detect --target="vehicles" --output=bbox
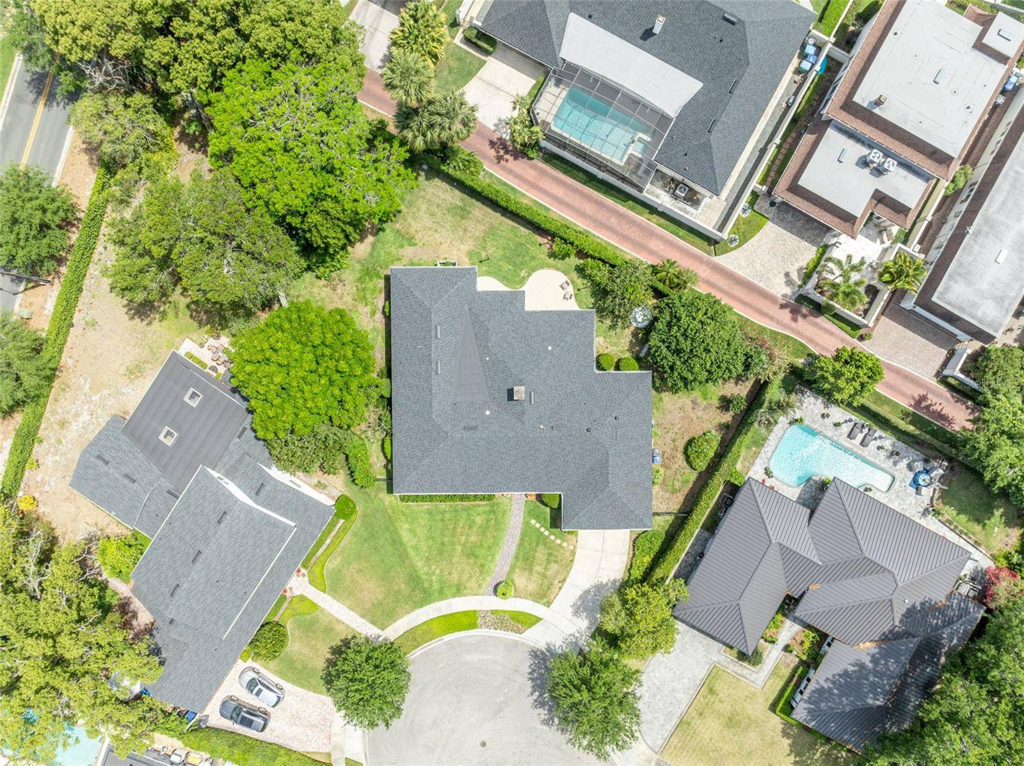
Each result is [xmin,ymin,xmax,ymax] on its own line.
[235,667,288,710]
[216,693,274,737]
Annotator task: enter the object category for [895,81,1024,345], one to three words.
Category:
house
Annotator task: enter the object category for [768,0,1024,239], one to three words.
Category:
house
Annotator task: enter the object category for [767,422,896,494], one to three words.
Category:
swimming pool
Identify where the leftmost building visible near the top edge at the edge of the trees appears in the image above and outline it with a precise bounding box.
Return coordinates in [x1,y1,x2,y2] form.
[473,0,817,196]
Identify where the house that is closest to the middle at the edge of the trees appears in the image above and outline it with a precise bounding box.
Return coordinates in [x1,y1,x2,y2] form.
[389,265,653,531]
